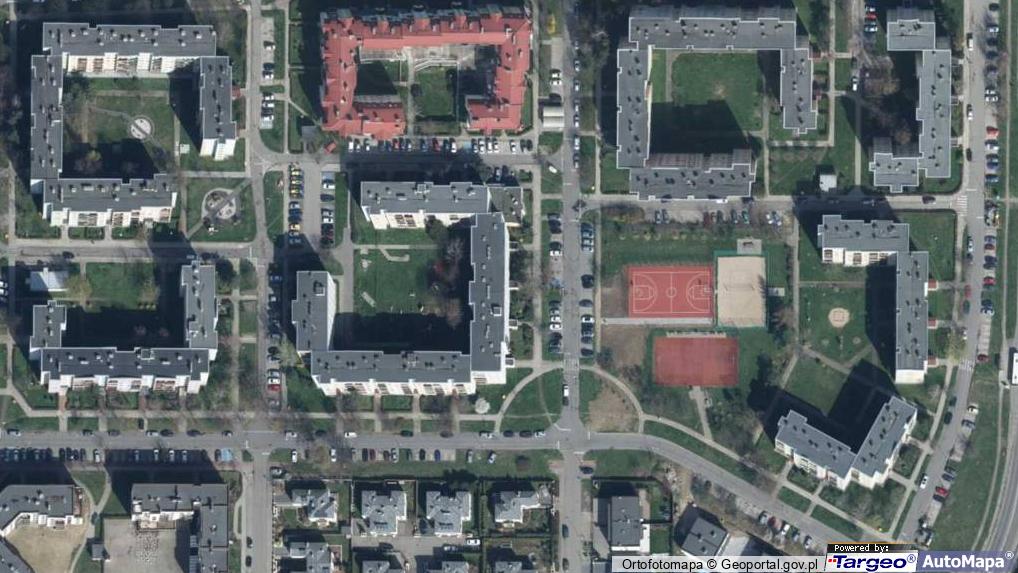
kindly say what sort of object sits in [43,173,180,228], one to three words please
building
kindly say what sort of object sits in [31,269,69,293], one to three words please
building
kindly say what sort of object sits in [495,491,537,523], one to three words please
house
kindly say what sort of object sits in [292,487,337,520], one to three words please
house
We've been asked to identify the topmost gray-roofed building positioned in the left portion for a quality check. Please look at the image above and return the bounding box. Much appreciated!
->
[43,23,220,75]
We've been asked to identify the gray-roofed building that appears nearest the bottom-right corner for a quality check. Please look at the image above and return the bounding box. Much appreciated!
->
[851,396,917,488]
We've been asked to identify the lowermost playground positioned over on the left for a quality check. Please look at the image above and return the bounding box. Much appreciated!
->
[202,186,242,223]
